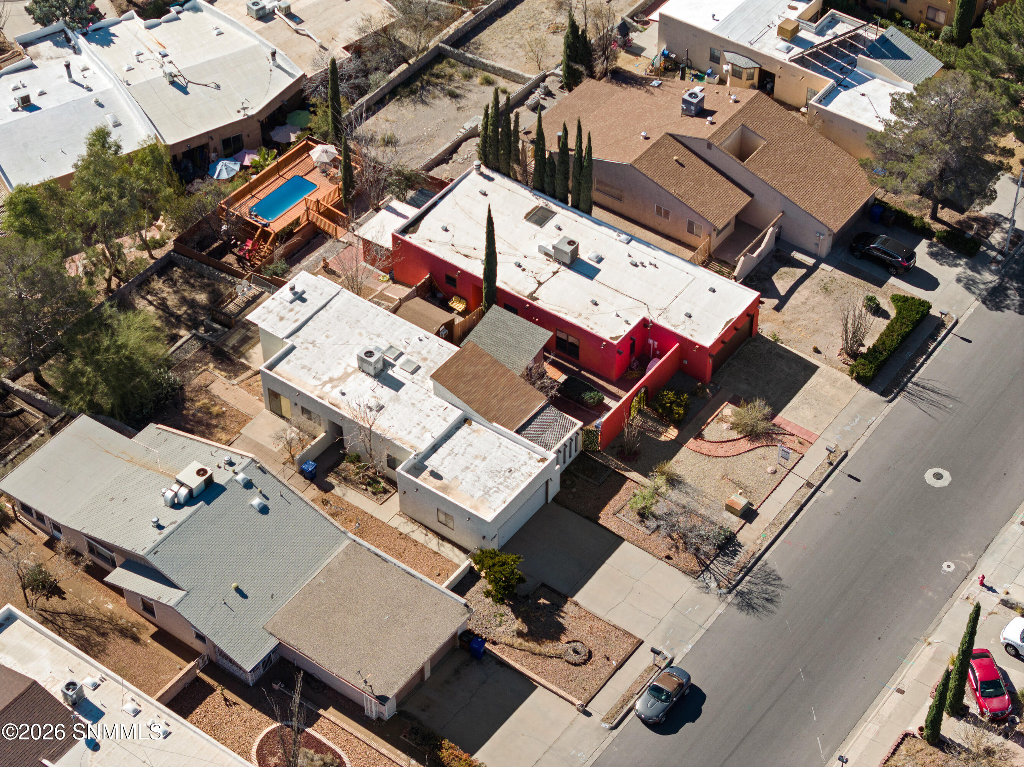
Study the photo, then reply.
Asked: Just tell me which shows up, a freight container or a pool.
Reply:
pool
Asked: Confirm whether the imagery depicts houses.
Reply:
Yes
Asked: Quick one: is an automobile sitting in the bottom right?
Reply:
Yes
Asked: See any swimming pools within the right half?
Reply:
No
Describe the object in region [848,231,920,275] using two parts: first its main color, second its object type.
black car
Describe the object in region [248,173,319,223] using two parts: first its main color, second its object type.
blue swimming pool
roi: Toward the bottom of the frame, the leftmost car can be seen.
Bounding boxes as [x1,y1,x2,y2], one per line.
[632,665,692,727]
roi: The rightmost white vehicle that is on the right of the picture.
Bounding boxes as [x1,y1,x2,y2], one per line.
[1000,616,1024,654]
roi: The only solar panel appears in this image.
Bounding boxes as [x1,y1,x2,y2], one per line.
[787,20,874,75]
